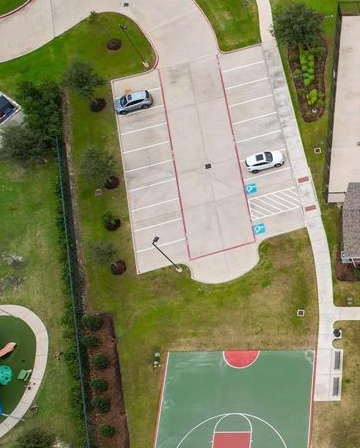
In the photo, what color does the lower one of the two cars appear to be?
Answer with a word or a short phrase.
white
